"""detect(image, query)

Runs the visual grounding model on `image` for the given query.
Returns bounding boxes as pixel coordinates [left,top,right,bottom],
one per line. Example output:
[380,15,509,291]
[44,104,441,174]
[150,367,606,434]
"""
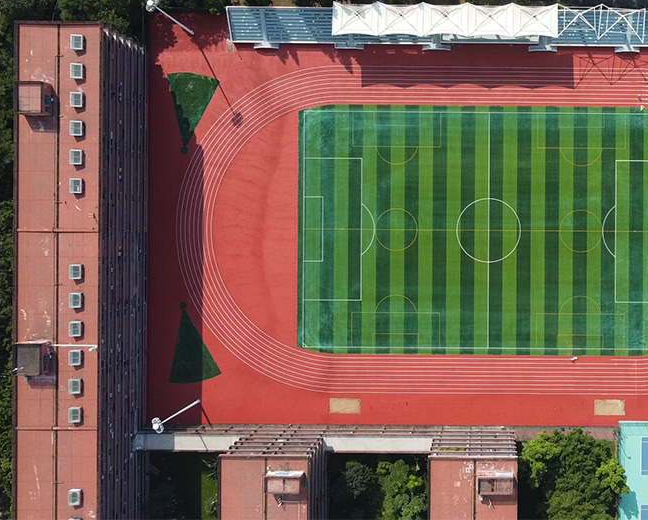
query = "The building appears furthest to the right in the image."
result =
[430,435,518,520]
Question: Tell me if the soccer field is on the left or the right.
right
